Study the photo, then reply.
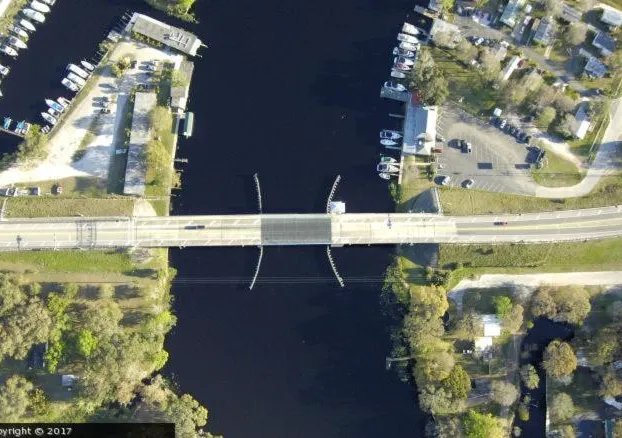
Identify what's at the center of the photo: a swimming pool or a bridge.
bridge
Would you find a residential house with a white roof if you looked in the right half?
Yes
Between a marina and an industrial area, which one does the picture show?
marina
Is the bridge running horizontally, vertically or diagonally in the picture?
horizontally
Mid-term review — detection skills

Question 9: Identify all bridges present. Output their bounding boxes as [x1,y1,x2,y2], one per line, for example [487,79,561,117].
[133,189,444,267]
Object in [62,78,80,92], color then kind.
white boat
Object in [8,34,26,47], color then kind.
white boat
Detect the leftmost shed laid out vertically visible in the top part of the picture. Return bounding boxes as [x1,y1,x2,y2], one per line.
[122,91,158,196]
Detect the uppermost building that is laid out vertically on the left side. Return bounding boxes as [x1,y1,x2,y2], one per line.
[171,61,191,107]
